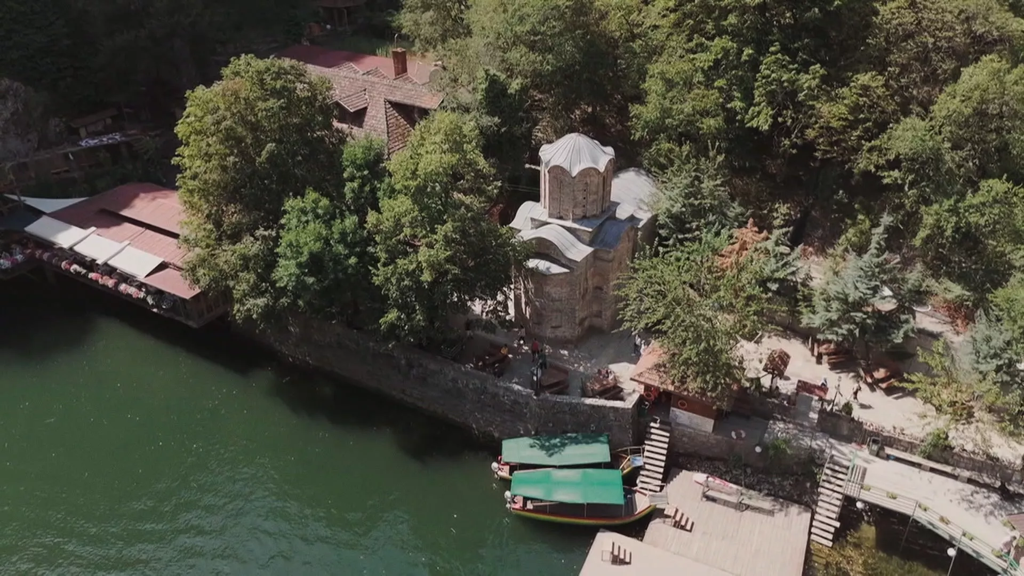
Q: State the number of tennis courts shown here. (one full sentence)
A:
No tennis courts are visible.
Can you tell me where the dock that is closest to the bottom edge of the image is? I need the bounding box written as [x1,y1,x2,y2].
[581,528,753,576]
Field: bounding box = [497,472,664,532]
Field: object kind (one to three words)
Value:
boat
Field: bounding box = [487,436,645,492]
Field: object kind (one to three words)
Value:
boat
